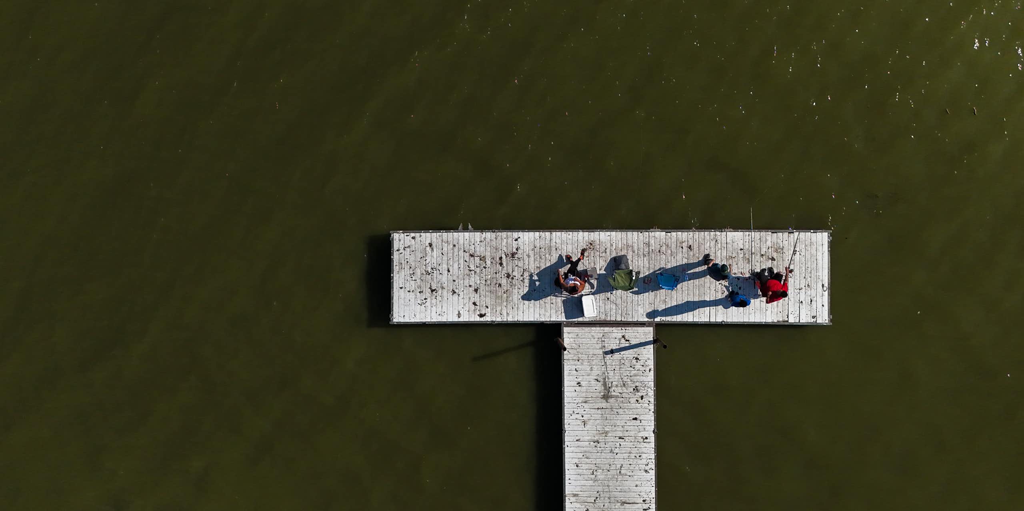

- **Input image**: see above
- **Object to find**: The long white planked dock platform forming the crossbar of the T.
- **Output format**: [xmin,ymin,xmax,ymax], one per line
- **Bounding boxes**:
[390,223,832,325]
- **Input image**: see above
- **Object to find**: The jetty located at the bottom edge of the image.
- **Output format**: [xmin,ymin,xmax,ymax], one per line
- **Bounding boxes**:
[555,324,661,511]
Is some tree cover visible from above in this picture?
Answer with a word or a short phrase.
No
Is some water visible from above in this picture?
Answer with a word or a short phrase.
Yes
